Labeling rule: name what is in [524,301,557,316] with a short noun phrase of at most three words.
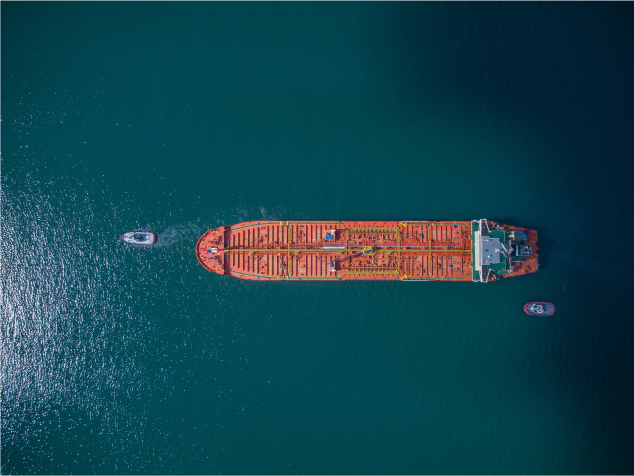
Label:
boat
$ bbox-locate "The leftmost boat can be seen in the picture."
[119,231,156,246]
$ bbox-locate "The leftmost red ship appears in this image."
[196,219,540,282]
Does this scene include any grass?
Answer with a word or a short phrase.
No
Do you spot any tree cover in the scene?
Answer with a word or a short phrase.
No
